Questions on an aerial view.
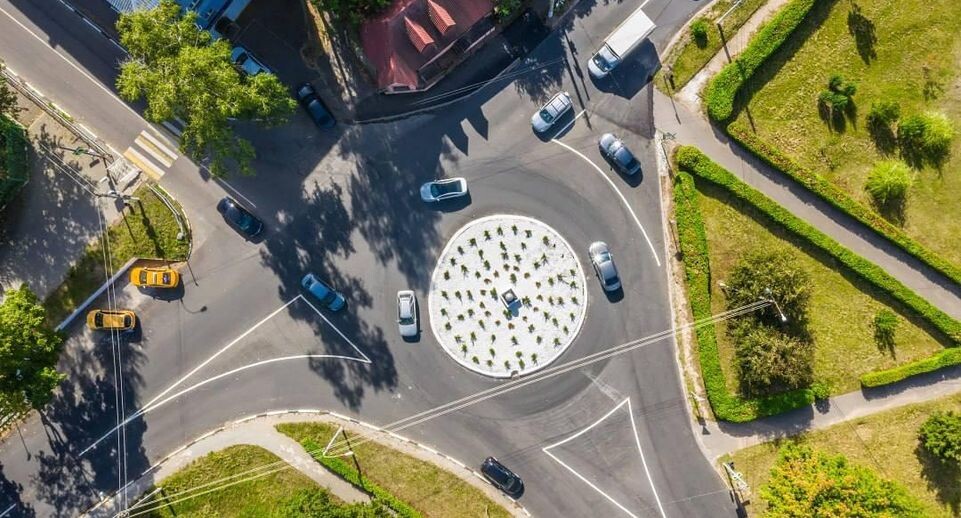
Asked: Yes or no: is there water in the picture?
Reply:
No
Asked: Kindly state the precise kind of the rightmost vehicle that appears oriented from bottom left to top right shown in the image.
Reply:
truck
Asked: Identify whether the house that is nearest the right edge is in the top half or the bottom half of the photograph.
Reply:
top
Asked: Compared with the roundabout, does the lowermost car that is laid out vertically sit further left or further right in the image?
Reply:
to the left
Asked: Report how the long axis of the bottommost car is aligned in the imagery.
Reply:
diagonally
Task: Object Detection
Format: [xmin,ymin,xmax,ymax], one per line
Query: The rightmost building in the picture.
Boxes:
[360,0,539,99]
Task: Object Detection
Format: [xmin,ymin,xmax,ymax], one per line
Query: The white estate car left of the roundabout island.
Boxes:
[396,291,418,335]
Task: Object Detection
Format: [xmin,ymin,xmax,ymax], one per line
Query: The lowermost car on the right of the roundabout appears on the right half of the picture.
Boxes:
[589,241,619,290]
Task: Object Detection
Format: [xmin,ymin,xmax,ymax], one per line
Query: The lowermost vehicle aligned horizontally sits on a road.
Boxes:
[87,309,136,331]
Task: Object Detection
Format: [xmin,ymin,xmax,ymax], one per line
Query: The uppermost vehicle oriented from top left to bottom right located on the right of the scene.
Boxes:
[601,131,641,175]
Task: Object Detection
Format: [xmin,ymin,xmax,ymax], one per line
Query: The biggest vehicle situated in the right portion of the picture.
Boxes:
[593,6,658,71]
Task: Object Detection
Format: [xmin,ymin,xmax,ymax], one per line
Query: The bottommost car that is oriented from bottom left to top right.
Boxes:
[530,92,574,131]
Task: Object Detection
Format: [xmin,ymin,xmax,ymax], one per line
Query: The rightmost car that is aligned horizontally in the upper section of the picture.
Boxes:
[419,179,466,201]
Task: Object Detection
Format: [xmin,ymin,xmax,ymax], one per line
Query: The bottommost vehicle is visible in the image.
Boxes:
[480,457,523,497]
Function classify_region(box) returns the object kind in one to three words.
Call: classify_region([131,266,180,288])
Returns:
car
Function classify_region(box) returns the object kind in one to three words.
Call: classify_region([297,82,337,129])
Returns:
car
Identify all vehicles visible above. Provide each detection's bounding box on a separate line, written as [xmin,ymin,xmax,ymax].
[216,196,263,236]
[297,82,337,129]
[419,179,466,201]
[593,6,658,71]
[530,92,574,131]
[589,241,619,290]
[131,266,180,288]
[228,44,271,82]
[601,131,641,175]
[396,291,418,335]
[480,457,523,497]
[87,309,136,331]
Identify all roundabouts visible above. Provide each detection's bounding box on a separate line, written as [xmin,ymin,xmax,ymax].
[429,217,588,377]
